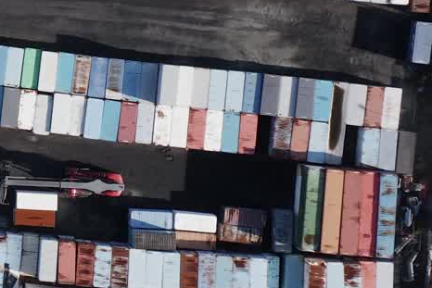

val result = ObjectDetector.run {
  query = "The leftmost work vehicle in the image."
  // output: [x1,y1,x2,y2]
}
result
[0,158,125,202]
